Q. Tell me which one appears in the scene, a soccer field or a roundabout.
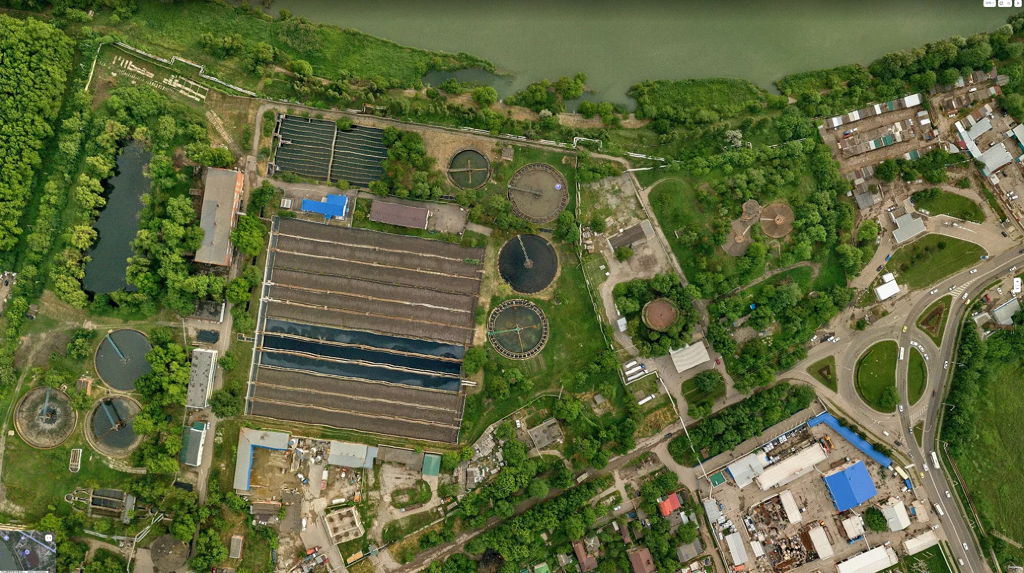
roundabout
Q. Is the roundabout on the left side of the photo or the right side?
right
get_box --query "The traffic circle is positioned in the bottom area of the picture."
[807,296,952,447]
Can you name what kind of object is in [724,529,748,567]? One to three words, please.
building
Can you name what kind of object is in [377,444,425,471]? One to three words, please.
shed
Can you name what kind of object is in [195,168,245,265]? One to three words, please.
building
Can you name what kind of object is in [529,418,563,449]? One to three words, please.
house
